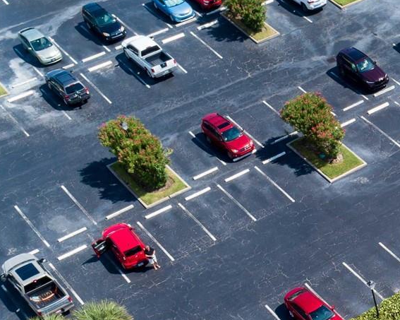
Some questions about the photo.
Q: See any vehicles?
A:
Yes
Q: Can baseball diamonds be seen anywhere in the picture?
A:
No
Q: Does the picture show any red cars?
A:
Yes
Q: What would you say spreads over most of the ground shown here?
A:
paved ground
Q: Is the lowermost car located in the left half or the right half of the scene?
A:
right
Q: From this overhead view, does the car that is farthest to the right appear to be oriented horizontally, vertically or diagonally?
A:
diagonally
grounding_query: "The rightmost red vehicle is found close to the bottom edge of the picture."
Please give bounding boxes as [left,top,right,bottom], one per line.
[281,286,337,320]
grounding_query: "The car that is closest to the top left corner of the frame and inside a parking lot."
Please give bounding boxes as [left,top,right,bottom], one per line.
[19,30,62,66]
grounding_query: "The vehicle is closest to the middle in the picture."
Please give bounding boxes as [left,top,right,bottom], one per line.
[202,114,255,162]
